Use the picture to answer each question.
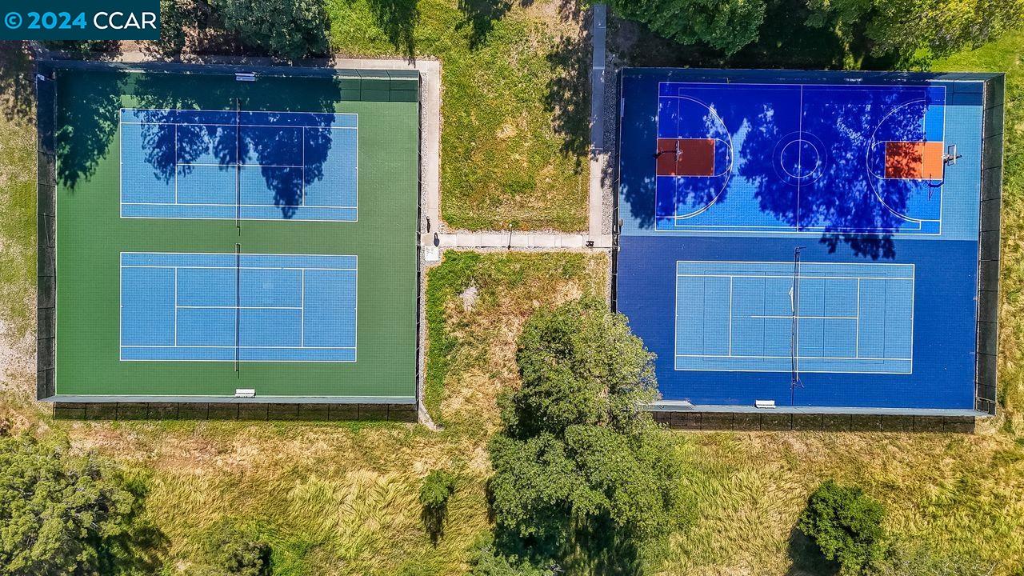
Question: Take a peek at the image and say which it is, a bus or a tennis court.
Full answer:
There is a tennis court in the scene.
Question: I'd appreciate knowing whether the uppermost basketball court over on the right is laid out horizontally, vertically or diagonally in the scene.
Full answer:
In this picture, the uppermost basketball court over on the right is oriented horizontally.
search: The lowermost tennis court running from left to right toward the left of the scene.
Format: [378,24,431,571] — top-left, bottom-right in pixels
[120,253,357,363]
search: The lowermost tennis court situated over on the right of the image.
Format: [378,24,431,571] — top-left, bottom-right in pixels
[675,261,915,373]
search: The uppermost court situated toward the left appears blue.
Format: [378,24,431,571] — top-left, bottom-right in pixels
[120,109,358,221]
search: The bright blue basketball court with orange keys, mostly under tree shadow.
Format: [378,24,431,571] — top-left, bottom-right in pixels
[656,82,945,235]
